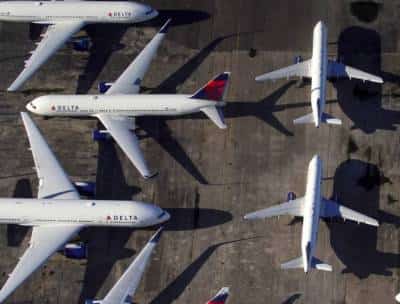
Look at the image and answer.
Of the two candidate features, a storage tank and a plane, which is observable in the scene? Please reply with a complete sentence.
It is a plane that can be seen here.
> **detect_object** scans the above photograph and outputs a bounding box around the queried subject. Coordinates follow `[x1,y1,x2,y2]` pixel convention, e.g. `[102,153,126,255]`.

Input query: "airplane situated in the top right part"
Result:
[255,21,382,127]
